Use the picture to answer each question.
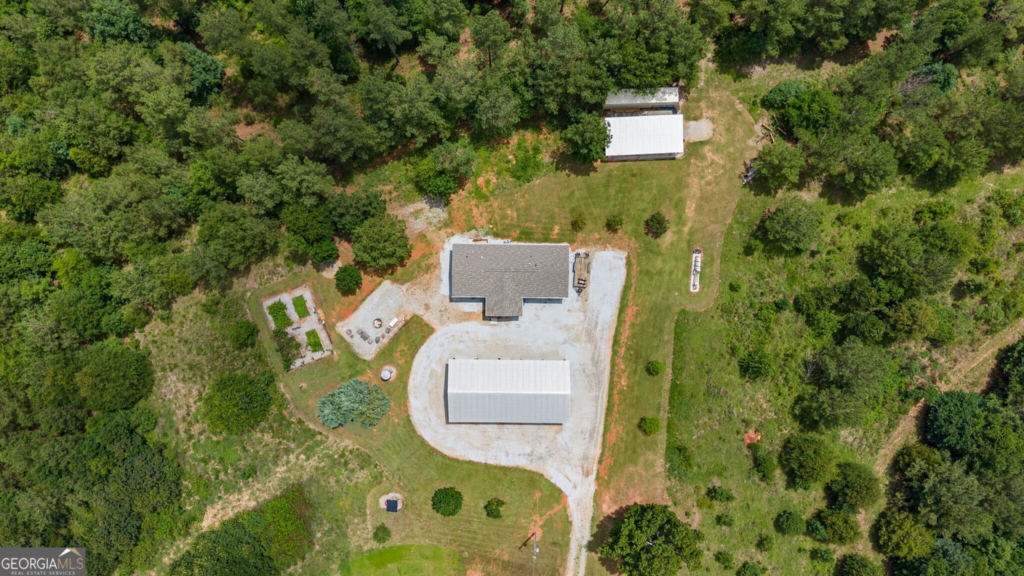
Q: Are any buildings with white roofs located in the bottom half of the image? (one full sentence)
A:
Yes, a building with a white roof is visible in the bottom half of the image.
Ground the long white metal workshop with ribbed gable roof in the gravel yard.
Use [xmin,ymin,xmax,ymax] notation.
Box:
[447,356,572,425]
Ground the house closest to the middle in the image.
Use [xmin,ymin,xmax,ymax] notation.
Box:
[451,243,570,323]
